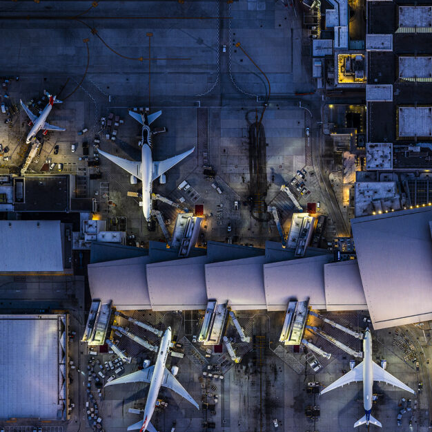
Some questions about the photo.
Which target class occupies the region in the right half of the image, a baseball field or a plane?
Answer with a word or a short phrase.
plane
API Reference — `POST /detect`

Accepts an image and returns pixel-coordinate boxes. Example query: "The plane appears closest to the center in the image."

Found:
[97,109,194,221]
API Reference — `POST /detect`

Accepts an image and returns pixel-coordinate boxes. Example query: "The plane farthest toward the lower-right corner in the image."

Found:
[319,327,415,429]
